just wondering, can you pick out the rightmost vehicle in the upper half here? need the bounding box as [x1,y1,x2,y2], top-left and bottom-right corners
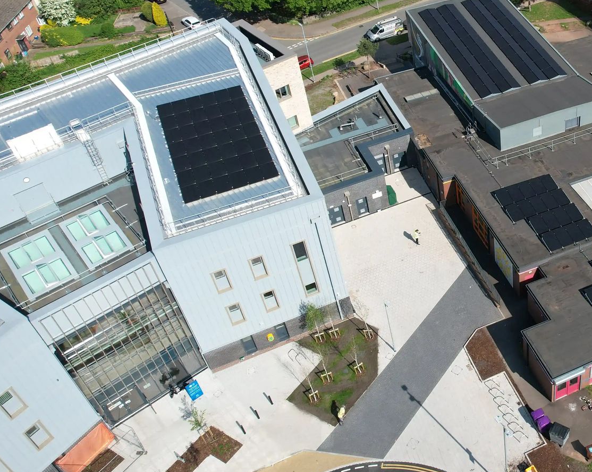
[367,13,407,40]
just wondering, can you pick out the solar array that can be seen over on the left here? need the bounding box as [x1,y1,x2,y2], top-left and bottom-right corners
[155,85,280,201]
